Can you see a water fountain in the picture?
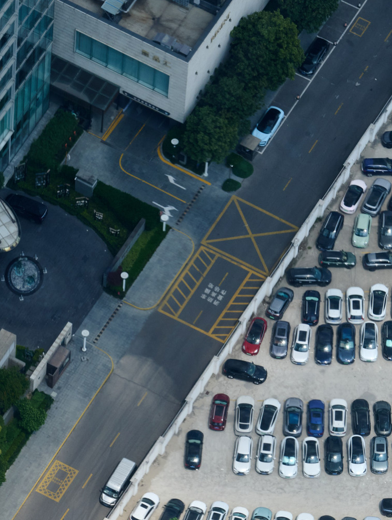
Yes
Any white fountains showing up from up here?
No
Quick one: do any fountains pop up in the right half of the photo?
No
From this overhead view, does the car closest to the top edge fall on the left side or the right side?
right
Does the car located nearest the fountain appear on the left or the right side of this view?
left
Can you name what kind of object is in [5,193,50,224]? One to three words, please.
car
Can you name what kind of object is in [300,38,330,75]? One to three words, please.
car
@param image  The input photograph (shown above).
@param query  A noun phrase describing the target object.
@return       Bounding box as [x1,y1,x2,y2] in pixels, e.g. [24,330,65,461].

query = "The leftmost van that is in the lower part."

[102,460,134,505]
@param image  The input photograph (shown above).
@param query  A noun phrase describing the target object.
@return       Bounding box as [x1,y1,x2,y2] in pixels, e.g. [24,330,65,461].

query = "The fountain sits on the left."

[4,257,44,292]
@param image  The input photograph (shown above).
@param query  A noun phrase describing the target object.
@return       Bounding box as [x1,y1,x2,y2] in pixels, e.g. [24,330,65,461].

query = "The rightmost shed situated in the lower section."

[48,346,70,383]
